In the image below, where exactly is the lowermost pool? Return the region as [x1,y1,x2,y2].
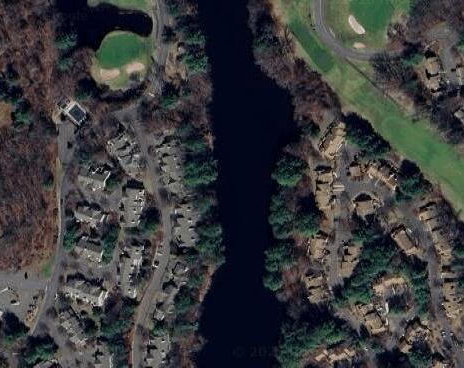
[65,102,89,124]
